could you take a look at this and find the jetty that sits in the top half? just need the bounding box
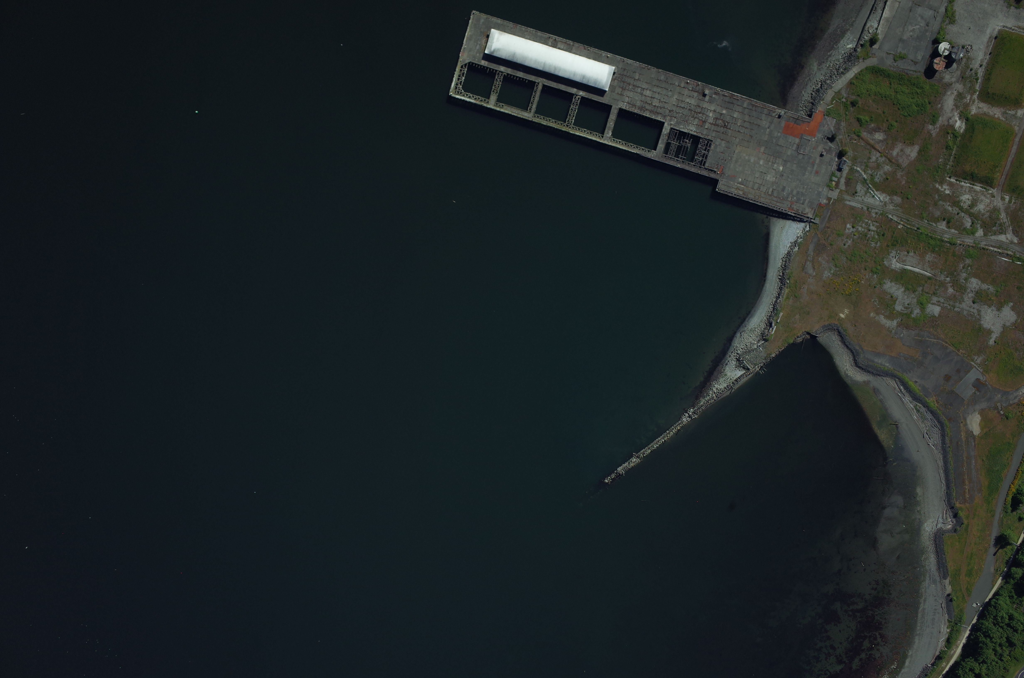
[450,11,841,224]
